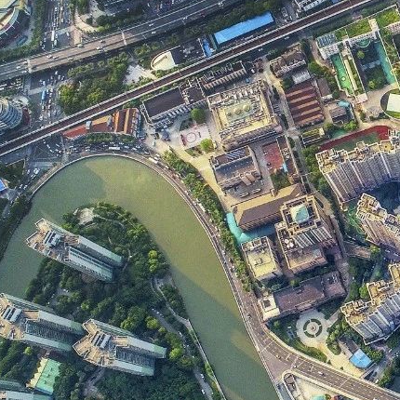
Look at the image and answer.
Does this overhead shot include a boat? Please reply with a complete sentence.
No, the frame has no boat in it.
